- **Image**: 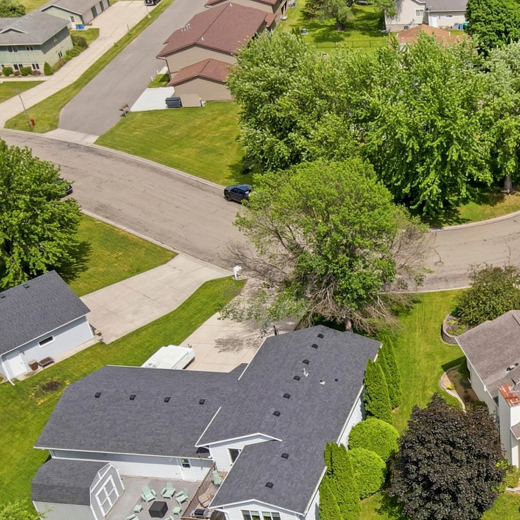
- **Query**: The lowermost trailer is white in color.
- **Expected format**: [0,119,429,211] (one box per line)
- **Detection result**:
[147,347,195,369]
